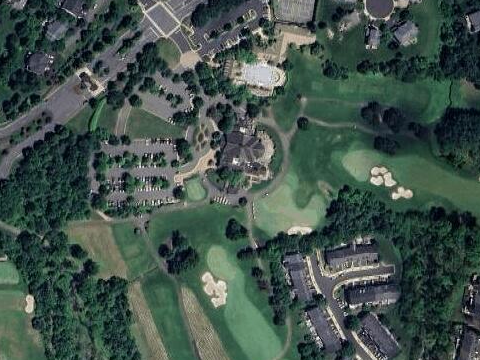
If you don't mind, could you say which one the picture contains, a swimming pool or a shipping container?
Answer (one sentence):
Looking from above, you can make out a swimming pool.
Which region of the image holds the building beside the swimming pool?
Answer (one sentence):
The building beside the swimming pool is located in the center region of the scene.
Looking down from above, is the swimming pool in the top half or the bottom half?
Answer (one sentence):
The top half of the photo is where the swimming pool is.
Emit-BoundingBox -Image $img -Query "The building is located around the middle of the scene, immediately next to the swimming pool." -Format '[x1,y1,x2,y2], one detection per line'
[221,122,274,180]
